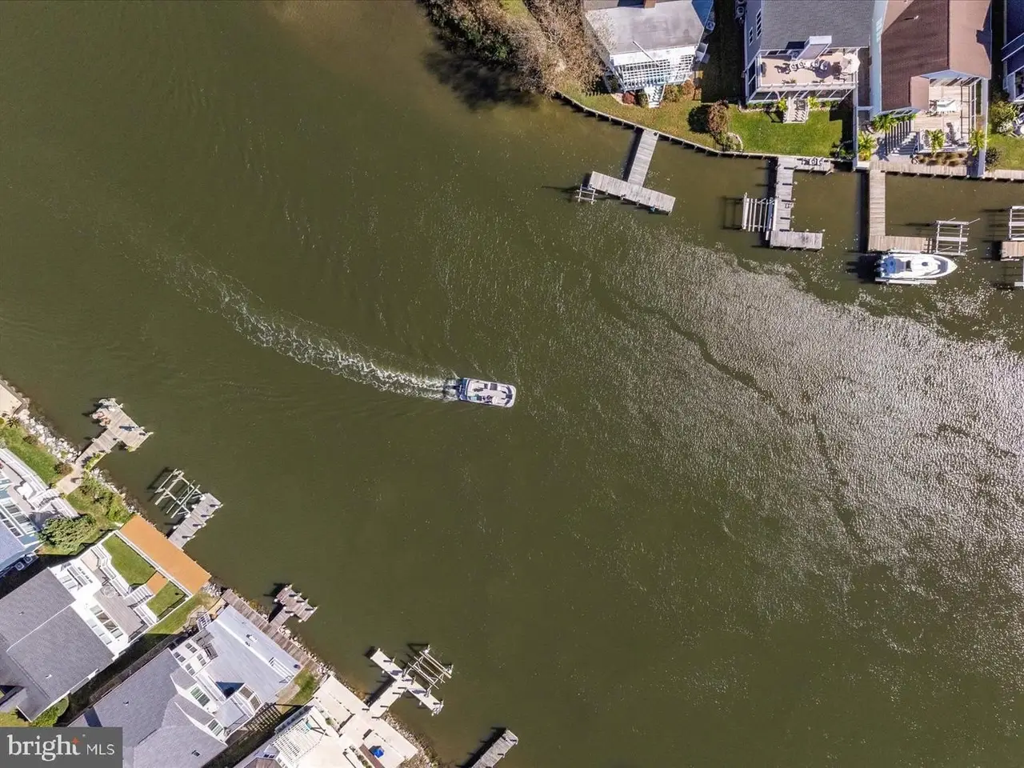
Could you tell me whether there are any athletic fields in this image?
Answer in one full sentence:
No, the photo shows no athletic field.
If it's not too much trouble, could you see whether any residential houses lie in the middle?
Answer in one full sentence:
No, there is no residential house in the middle.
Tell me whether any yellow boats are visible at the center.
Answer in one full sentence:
No, at the center there is no yellow boat.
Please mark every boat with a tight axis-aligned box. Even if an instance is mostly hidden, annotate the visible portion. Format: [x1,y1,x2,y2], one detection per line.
[456,378,516,407]
[871,253,962,280]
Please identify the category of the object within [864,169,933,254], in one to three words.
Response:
pier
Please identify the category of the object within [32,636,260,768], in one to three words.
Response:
house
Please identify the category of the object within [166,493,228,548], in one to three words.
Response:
pier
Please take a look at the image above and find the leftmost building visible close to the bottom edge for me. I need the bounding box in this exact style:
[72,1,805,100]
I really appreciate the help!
[0,546,138,736]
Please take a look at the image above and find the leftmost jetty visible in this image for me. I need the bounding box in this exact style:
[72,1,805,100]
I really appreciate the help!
[76,397,158,467]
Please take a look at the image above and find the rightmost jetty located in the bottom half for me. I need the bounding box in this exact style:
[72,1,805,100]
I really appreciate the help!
[472,724,519,768]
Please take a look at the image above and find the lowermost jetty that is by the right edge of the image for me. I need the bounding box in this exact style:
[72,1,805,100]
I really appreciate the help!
[996,240,1024,261]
